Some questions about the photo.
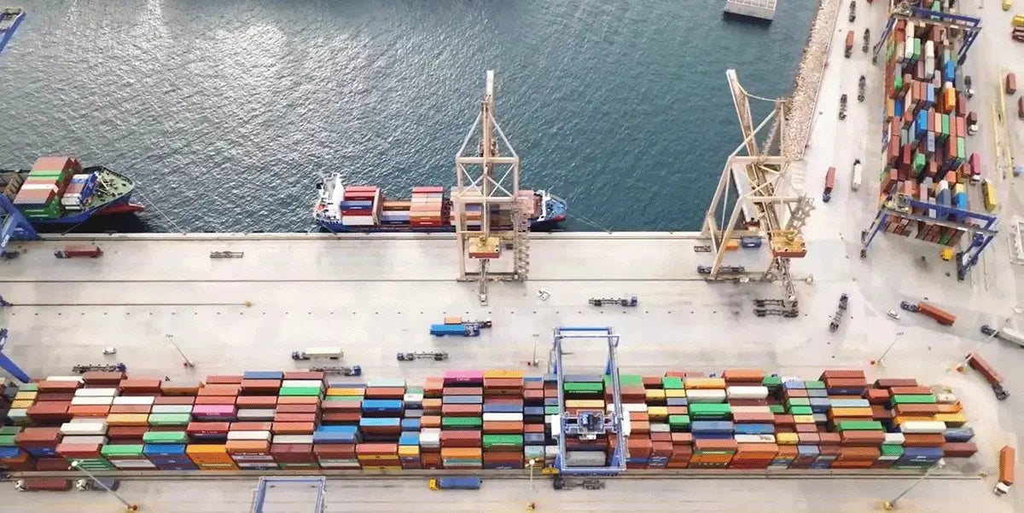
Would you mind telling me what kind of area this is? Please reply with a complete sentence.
It's a port.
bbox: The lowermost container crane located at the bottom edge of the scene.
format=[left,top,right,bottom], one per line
[244,469,326,513]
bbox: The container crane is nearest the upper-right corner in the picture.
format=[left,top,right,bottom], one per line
[878,6,984,80]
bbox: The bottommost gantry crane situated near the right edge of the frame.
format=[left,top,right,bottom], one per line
[861,204,994,287]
